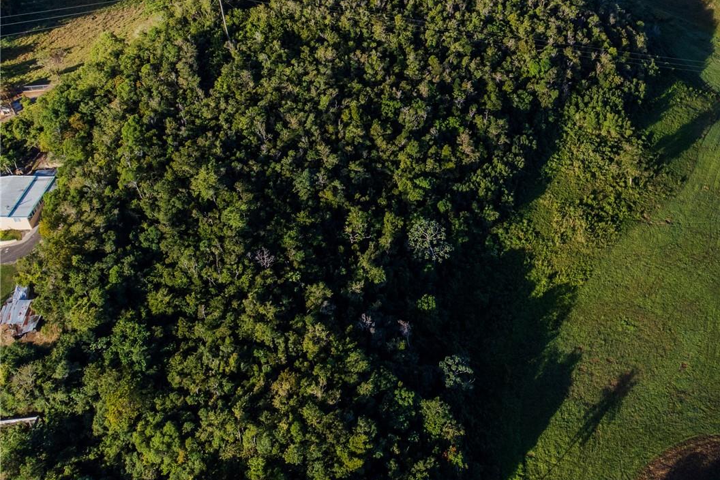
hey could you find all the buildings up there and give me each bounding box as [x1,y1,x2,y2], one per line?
[0,281,36,337]
[0,170,58,231]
